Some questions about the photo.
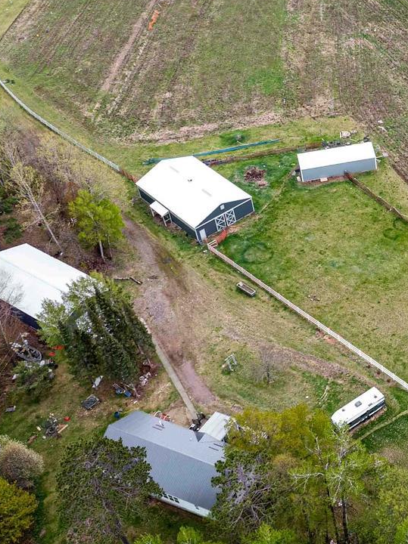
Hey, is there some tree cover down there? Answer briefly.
Yes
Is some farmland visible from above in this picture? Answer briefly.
Yes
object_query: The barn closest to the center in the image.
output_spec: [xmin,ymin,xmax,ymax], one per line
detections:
[136,155,254,241]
